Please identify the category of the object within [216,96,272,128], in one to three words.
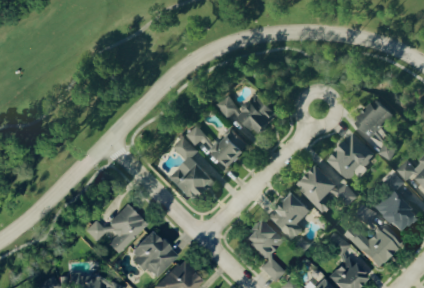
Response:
house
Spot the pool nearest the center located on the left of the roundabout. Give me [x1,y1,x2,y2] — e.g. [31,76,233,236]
[204,114,228,138]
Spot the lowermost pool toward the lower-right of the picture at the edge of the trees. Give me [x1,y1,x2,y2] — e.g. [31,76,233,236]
[299,270,321,286]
